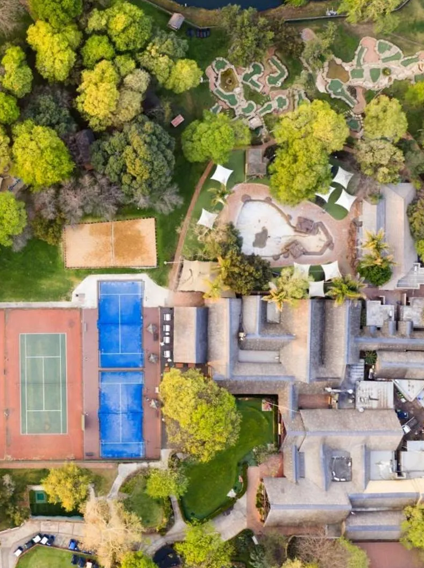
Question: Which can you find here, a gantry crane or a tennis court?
tennis court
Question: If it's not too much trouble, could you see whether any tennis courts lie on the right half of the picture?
No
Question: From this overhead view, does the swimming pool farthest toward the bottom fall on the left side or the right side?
right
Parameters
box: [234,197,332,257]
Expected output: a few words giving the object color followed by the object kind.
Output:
white swimming pool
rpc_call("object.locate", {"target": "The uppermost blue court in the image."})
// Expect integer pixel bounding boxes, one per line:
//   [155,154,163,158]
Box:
[99,280,148,369]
